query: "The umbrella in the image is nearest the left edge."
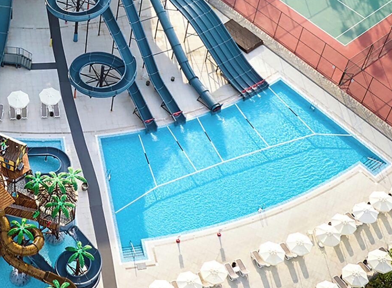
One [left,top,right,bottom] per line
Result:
[7,94,30,116]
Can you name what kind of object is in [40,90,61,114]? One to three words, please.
umbrella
